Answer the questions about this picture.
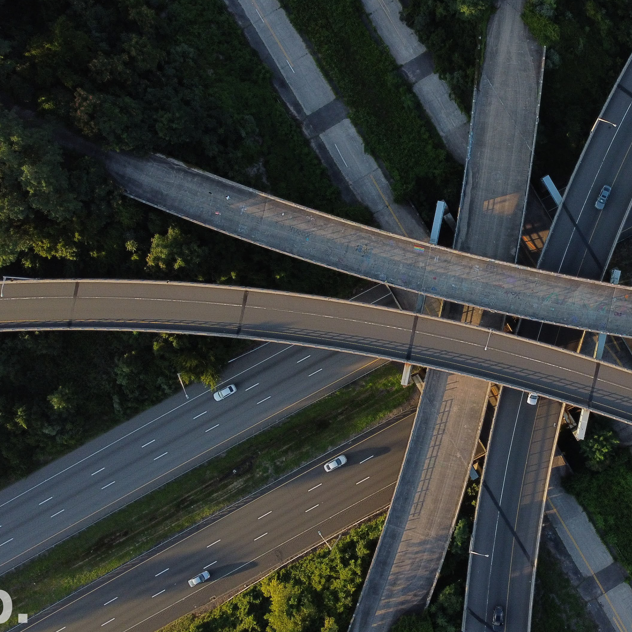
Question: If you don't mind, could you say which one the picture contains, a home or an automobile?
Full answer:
The one in the frame is an automobile.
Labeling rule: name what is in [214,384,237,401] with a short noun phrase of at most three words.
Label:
car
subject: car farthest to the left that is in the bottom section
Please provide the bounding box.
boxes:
[188,570,210,586]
